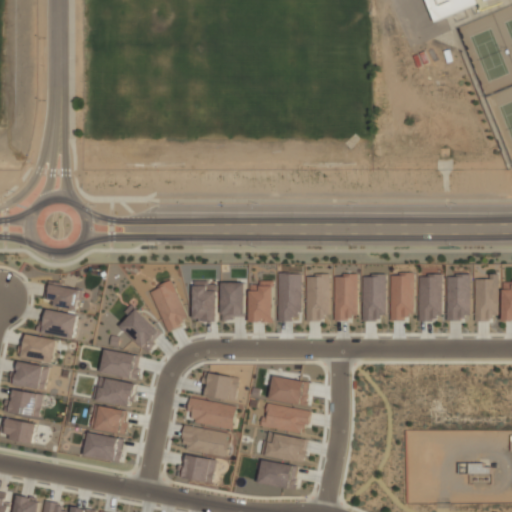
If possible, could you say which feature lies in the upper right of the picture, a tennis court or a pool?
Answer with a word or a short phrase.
tennis court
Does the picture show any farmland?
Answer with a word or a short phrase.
Yes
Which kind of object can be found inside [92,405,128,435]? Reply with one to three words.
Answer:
house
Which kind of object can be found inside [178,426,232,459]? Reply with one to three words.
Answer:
house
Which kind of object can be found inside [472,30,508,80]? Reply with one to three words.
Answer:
tennis court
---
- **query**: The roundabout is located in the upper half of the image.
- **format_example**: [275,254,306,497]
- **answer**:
[0,122,122,256]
